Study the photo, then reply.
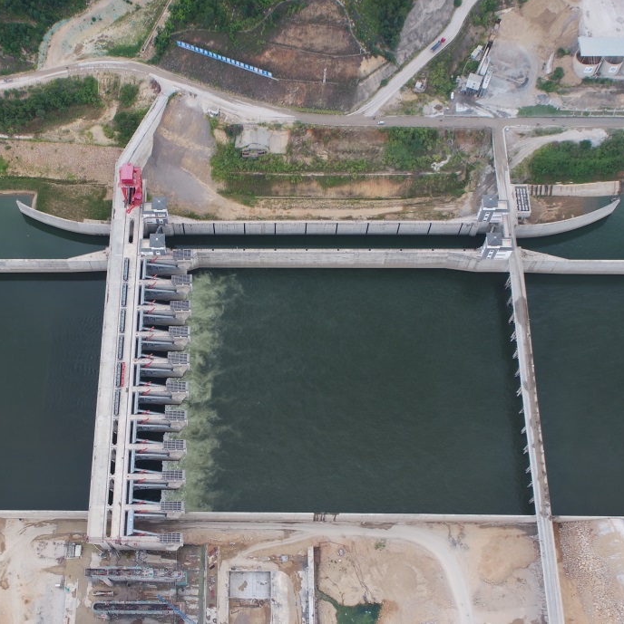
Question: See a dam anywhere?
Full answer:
Yes, the photo shows a dam.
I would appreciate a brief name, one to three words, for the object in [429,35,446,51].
vehicle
